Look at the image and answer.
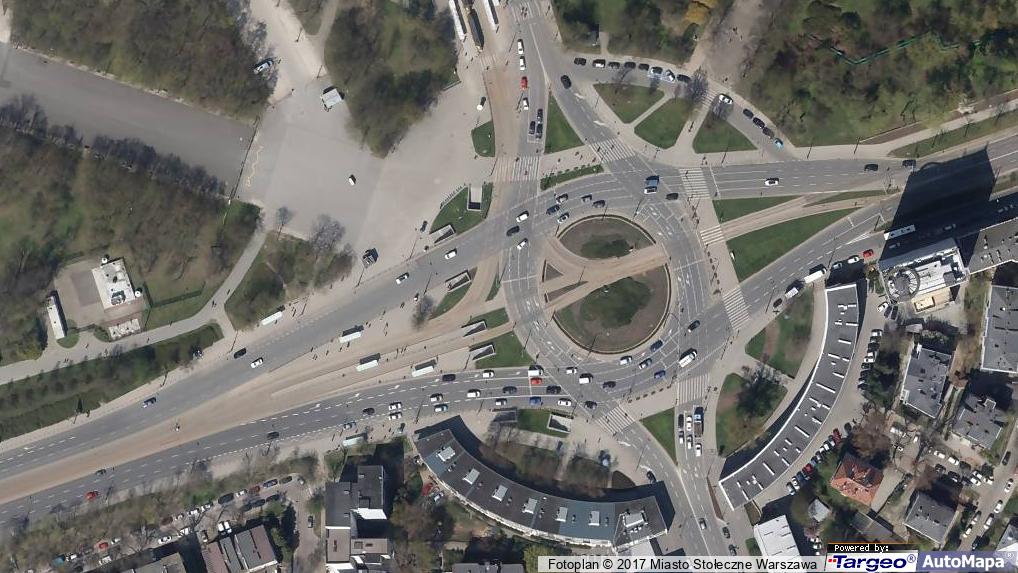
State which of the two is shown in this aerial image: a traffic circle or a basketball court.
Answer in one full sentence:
The one in the frame is a traffic circle.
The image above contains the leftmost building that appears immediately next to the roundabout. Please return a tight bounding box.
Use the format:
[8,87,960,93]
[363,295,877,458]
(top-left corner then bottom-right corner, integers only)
[417,430,667,546]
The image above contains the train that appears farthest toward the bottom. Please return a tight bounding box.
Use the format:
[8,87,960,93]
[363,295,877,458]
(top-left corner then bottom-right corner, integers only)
[467,8,484,49]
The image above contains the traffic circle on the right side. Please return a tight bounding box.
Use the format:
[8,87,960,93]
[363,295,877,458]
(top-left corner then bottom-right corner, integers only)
[502,158,735,420]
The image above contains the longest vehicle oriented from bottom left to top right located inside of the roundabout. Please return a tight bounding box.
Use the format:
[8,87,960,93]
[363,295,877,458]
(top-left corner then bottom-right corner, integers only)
[678,351,698,366]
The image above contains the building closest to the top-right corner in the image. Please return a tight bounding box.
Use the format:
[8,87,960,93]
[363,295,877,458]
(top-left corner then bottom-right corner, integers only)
[968,217,1018,276]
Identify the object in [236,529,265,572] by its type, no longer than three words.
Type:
house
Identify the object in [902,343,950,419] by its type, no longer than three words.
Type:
building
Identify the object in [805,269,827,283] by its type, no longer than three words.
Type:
vehicle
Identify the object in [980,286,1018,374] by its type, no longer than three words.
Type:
building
